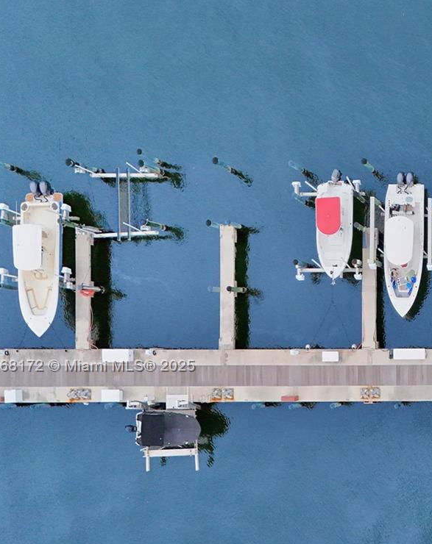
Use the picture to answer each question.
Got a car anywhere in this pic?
No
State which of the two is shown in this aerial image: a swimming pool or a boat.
boat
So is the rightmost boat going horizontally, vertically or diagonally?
vertically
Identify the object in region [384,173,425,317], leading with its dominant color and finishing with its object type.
white boat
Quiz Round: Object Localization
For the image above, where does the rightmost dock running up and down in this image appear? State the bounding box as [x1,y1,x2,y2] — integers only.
[362,228,381,350]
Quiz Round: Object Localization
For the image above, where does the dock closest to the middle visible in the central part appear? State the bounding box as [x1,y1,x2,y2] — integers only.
[221,224,240,350]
